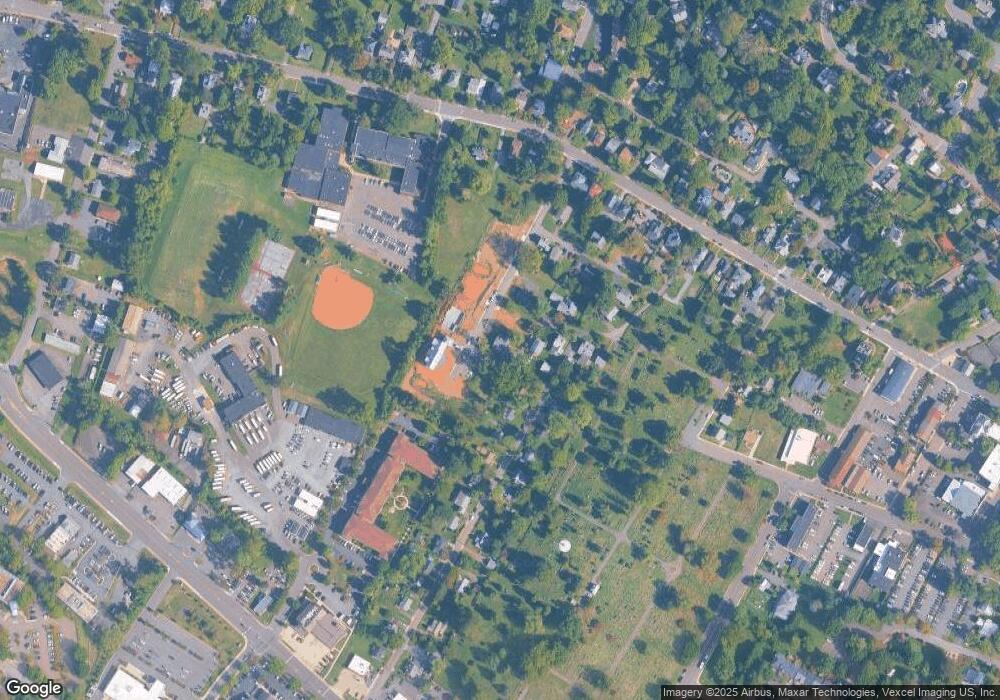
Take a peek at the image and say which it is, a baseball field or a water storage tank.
baseball field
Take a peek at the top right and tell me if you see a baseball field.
No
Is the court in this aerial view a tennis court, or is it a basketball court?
tennis court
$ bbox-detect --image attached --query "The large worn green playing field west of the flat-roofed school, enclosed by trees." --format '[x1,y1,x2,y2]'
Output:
[136,142,316,345]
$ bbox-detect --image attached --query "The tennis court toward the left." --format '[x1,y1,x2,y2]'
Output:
[240,240,297,309]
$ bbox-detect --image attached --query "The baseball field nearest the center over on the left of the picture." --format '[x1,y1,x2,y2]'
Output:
[238,236,430,416]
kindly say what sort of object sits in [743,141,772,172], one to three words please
building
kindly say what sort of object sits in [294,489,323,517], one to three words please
building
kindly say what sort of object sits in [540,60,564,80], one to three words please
house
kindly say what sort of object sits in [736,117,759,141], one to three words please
house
